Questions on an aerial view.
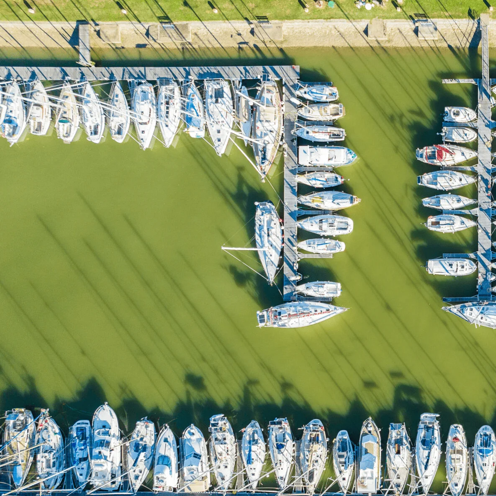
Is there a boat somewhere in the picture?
Yes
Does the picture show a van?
No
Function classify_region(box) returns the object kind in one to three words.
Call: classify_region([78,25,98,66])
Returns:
pier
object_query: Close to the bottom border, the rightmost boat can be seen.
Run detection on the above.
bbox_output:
[472,425,496,496]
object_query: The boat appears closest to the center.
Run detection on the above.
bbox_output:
[222,199,288,287]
